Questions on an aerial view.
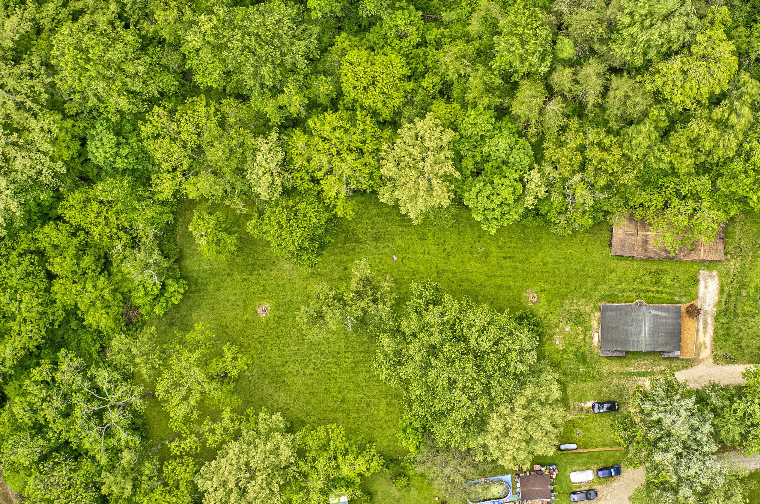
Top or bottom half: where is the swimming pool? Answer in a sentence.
The swimming pool is in the bottom half of the image.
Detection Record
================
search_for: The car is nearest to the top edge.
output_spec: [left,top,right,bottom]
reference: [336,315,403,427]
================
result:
[591,400,619,413]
